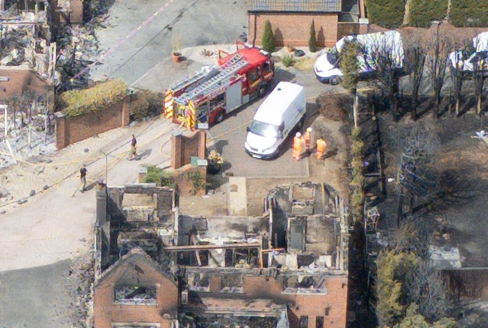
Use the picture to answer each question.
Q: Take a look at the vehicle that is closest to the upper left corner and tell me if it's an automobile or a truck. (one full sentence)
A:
The vehicle that is closest to the upper left corner in the image is a truck.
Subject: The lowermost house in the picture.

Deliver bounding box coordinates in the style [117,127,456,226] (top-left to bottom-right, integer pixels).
[89,134,353,328]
